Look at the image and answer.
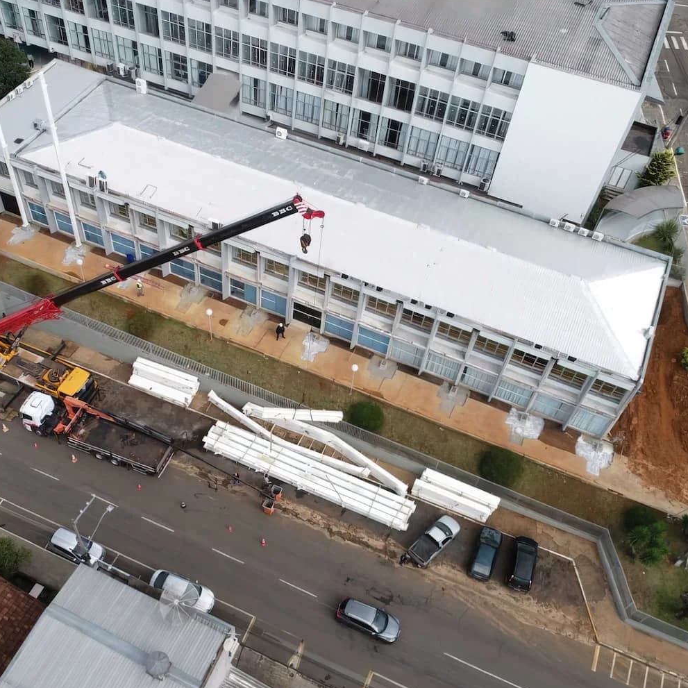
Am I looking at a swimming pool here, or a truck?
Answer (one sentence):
Visible in the photo is a truck.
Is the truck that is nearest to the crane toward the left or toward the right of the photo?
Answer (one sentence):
The truck that is nearest to the crane is on the left side of the image.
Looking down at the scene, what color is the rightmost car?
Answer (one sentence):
The color of the rightmost car is black.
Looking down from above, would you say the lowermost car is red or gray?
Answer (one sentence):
In this view, the lowermost car is gray.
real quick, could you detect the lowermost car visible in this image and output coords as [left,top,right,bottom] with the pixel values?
[335,595,401,650]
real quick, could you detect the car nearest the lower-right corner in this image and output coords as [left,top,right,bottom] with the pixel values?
[508,535,547,589]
